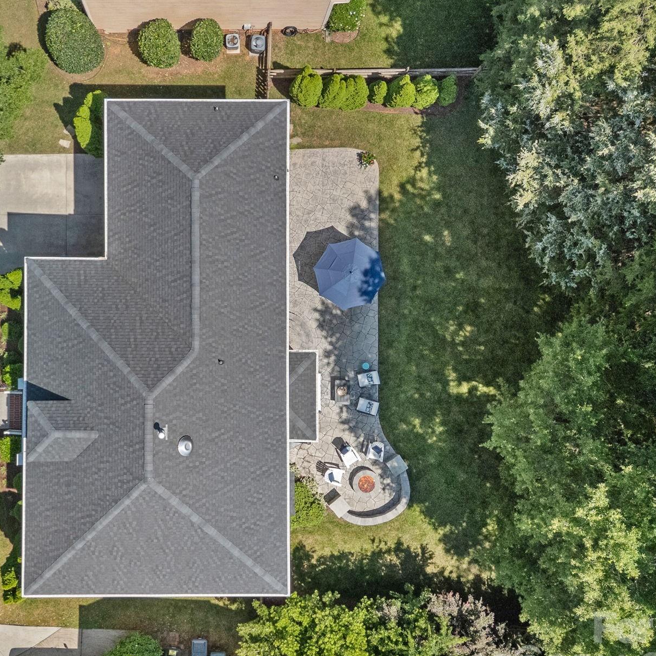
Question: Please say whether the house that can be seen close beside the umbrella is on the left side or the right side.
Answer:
left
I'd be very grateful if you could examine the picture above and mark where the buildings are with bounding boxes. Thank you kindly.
[83,0,351,36]
[17,99,322,597]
